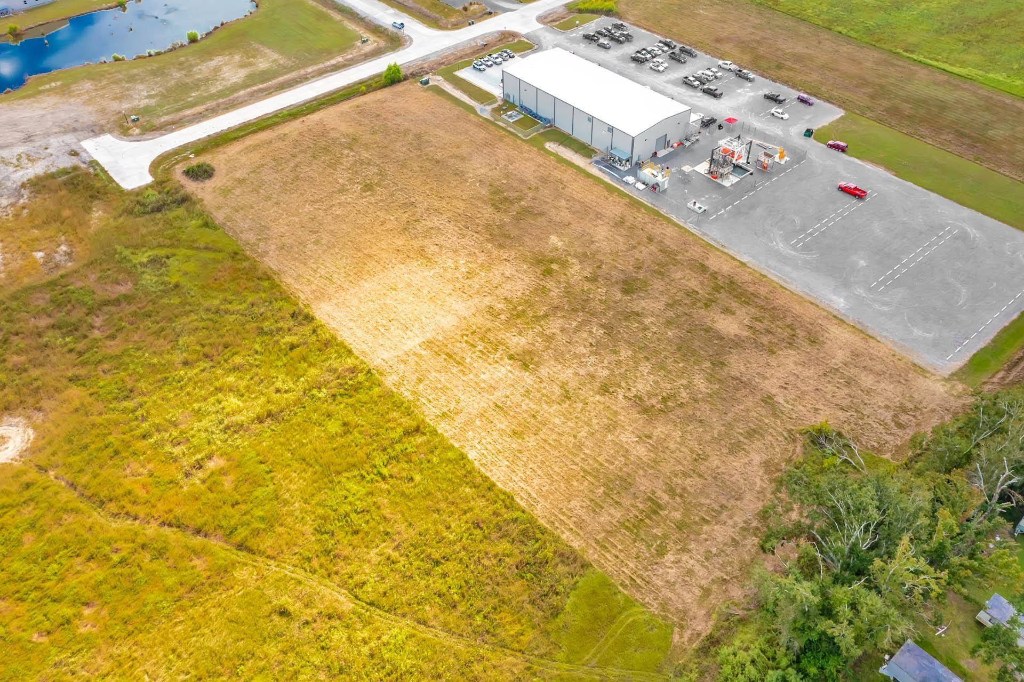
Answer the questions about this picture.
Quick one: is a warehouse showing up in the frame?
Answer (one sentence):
Yes, looking at the shot, I can spot a warehouse.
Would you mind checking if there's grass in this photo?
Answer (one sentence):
Yes, grass can be seen from above here.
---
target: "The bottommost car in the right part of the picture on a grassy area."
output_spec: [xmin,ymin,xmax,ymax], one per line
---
[826,140,849,153]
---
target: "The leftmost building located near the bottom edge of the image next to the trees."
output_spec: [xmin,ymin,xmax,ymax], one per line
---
[886,640,964,682]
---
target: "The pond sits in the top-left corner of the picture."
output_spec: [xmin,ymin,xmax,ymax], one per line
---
[0,0,258,95]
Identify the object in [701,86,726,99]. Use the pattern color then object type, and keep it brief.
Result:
gray vehicle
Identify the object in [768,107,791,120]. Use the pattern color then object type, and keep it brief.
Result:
white vehicle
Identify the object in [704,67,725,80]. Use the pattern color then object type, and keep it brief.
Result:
white vehicle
